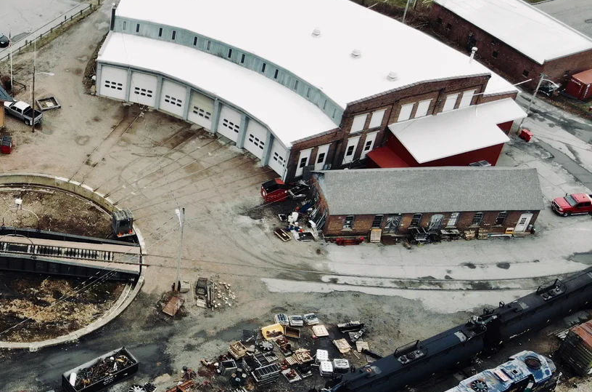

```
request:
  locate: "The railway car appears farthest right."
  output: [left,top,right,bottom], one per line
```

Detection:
[558,319,592,373]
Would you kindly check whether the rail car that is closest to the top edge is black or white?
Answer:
black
